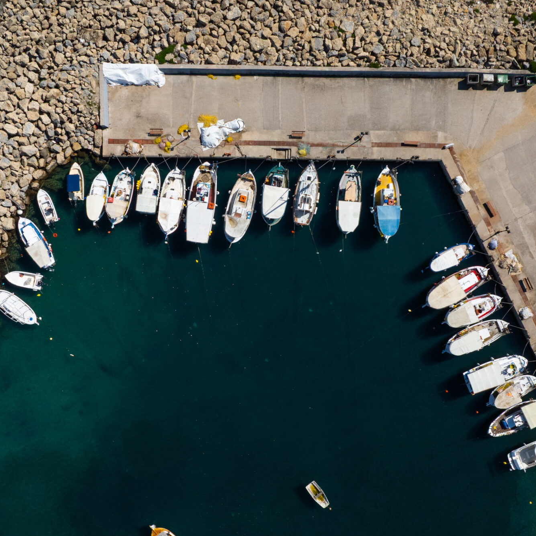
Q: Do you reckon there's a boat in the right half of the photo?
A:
Yes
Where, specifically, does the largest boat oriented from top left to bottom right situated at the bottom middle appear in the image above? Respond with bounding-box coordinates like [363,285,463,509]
[306,482,328,508]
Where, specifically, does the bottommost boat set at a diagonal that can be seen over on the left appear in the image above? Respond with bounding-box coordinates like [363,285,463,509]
[0,289,41,325]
